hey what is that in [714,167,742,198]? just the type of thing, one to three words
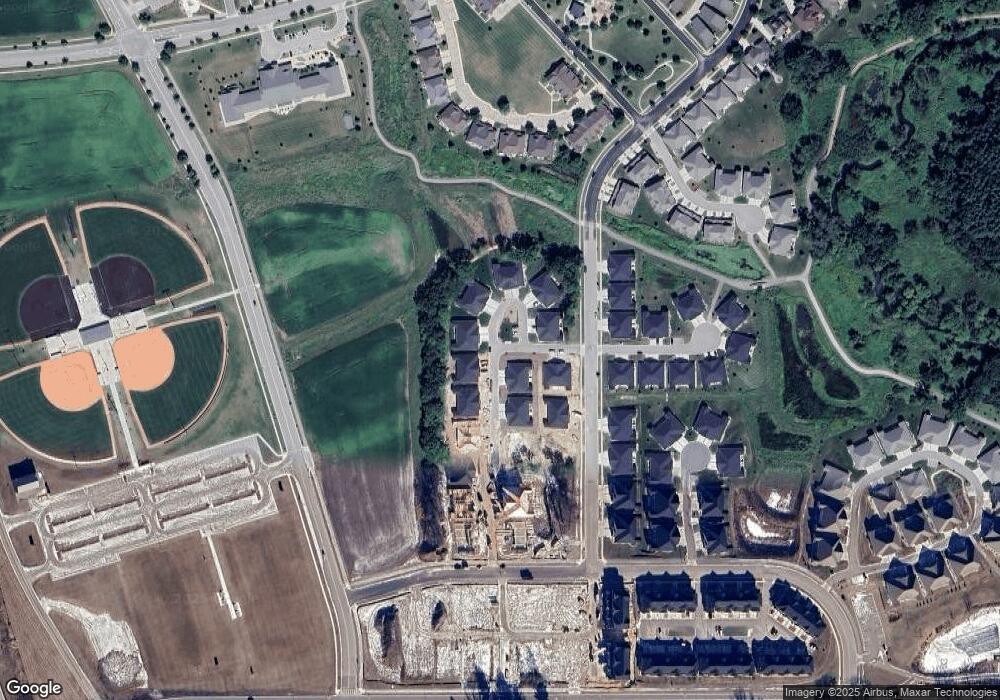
house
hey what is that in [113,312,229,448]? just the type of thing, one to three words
baseball field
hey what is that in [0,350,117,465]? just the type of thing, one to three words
baseball field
